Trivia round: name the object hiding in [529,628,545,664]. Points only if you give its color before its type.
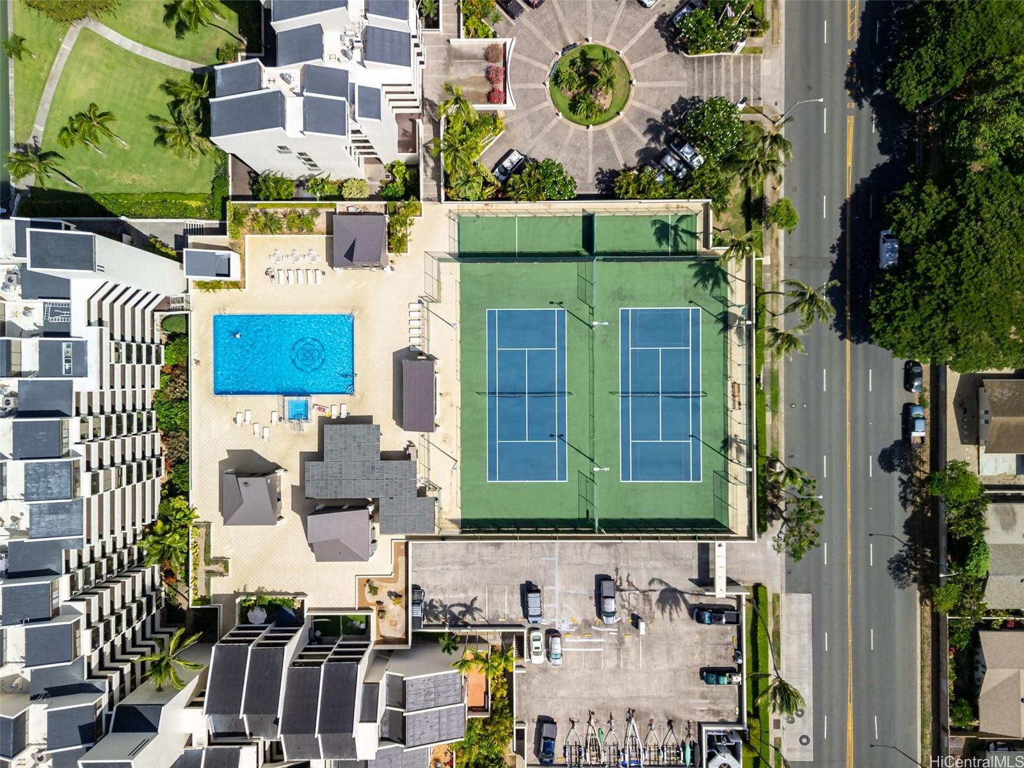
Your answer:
white car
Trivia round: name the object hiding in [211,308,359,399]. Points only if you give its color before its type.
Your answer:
blue swimming pool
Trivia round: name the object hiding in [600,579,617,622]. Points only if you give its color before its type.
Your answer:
gray vehicle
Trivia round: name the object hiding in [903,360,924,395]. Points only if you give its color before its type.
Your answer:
black car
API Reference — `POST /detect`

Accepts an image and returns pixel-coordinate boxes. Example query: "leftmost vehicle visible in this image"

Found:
[412,585,427,627]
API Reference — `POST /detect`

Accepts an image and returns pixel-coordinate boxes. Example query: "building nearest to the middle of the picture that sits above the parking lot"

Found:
[402,360,440,431]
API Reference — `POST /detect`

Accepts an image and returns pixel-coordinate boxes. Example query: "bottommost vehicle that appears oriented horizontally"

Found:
[703,667,742,686]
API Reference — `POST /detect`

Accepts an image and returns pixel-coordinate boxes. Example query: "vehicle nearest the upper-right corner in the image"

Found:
[878,231,899,270]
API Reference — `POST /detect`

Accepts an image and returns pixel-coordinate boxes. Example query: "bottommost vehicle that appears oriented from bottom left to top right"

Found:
[494,147,526,182]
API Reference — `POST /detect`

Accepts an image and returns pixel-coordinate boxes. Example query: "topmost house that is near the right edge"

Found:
[970,380,1024,475]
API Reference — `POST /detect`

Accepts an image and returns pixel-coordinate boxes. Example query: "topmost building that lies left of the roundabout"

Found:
[208,0,427,172]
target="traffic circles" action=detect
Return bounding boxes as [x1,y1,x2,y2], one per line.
[546,39,636,129]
